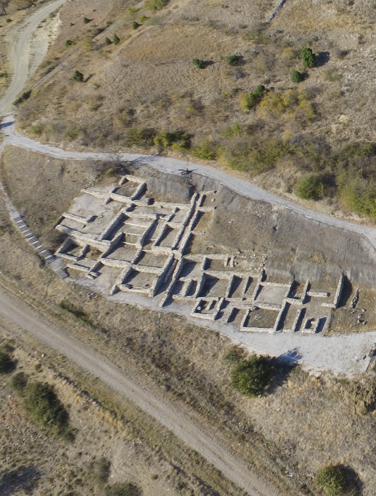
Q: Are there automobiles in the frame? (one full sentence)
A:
No, the scene contains no automobile.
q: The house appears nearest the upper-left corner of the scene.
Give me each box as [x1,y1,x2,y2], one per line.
[80,175,152,207]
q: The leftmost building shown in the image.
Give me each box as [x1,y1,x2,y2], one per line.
[55,238,102,282]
